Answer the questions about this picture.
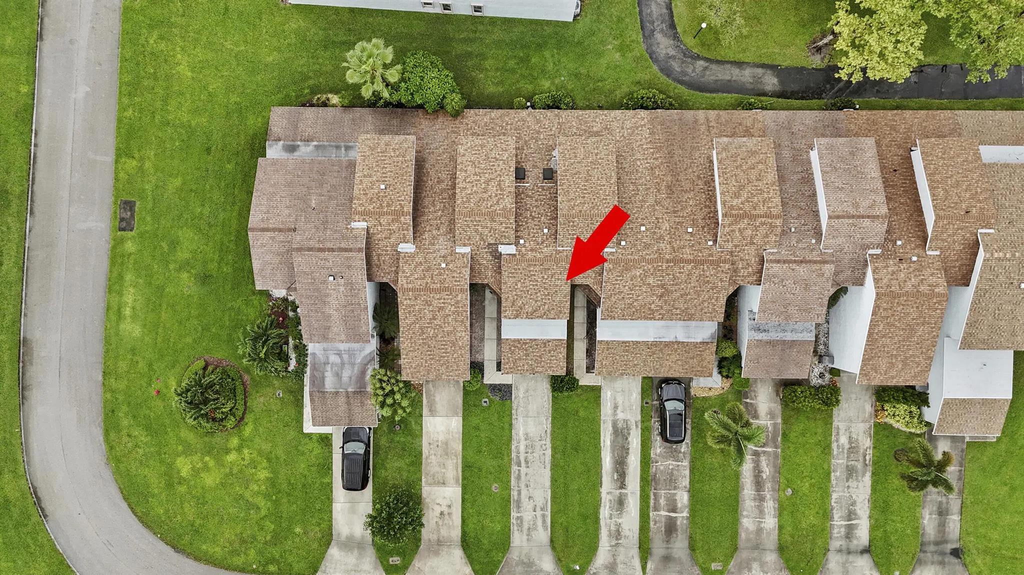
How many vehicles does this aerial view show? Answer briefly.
two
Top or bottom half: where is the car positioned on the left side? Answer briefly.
bottom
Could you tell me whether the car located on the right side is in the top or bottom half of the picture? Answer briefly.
bottom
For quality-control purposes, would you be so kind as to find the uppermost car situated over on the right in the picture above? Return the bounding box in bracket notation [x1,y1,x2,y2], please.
[657,380,689,444]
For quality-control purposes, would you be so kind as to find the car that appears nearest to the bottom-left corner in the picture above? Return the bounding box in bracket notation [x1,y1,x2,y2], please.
[337,427,370,491]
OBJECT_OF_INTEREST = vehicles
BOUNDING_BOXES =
[337,427,370,491]
[657,380,689,444]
